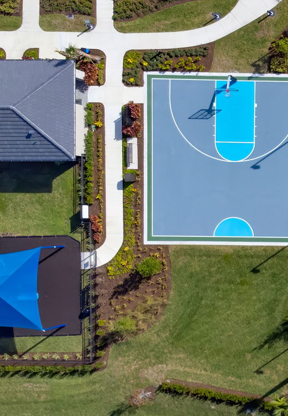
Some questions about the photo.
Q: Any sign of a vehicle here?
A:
No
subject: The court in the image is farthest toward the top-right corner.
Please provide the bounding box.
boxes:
[143,72,288,246]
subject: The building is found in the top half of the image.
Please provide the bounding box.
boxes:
[0,59,87,161]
